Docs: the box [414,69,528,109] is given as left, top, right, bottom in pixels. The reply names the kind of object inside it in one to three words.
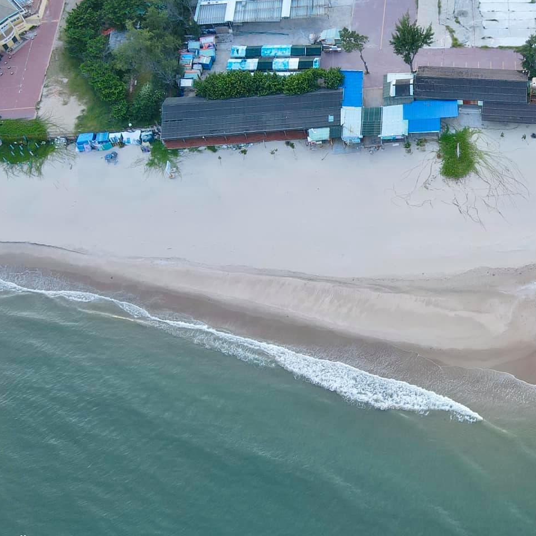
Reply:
building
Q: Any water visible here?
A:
Yes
